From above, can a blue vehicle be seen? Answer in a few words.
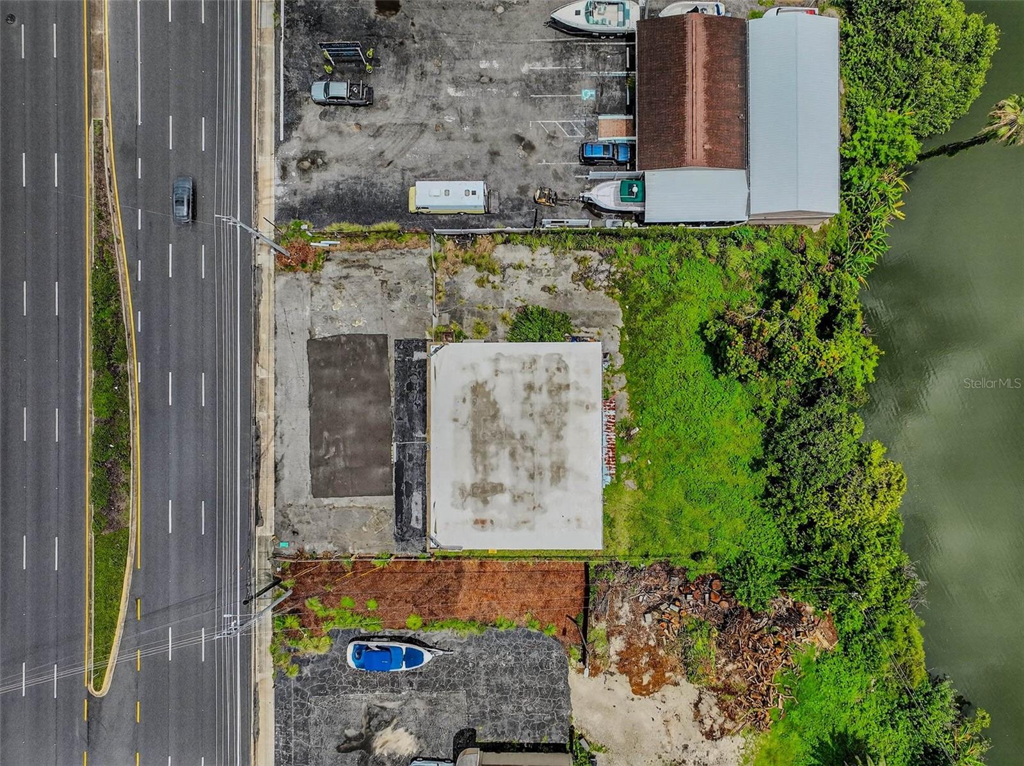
Yes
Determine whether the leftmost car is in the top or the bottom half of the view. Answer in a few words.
top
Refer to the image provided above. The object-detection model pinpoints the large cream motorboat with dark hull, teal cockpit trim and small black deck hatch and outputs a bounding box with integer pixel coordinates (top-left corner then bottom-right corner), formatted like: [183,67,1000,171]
[549,0,646,30]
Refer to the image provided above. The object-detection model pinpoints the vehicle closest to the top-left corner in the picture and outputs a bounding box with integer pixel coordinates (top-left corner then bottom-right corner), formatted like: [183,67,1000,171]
[171,176,198,225]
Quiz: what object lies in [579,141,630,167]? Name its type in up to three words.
car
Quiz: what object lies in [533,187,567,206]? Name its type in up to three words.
work vehicle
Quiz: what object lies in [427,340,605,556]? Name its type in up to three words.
building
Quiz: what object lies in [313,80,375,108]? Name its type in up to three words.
truck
